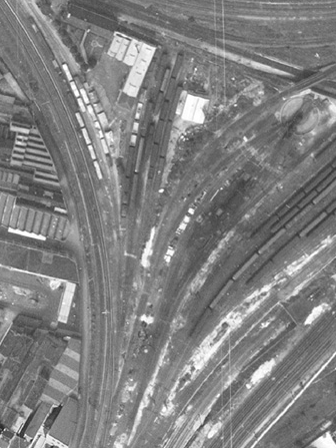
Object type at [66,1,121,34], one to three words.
building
